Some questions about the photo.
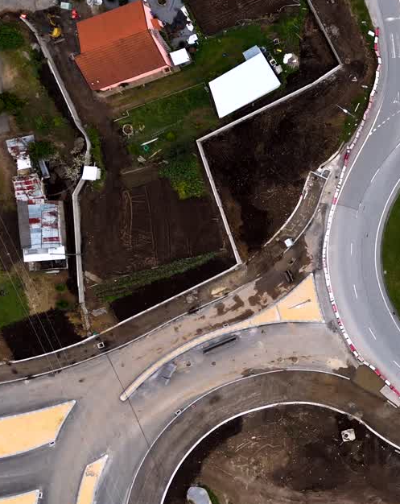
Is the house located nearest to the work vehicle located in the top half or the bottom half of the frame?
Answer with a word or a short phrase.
top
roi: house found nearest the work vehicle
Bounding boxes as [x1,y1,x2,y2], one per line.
[75,0,177,92]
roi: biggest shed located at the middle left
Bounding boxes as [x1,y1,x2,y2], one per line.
[17,199,72,248]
